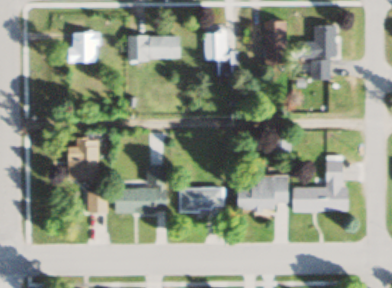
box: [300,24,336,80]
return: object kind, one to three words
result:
house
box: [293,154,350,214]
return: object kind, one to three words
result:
house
